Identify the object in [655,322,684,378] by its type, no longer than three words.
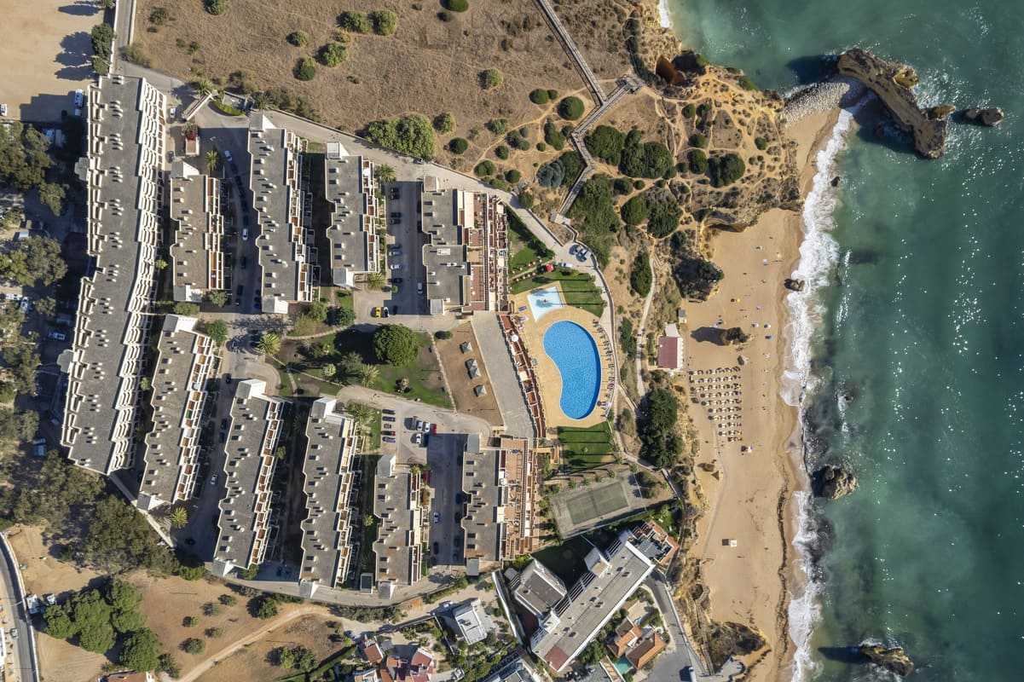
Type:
building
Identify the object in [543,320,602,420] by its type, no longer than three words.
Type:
swimming pool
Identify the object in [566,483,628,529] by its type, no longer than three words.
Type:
tennis court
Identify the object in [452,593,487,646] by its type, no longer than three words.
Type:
house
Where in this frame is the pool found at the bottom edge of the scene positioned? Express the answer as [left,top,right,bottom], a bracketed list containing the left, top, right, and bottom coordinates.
[615,655,633,676]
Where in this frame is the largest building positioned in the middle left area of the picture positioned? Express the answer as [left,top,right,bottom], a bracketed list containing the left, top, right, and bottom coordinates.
[57,76,174,475]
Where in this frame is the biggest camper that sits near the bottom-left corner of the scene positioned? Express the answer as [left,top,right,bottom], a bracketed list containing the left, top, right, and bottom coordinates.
[26,593,40,614]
